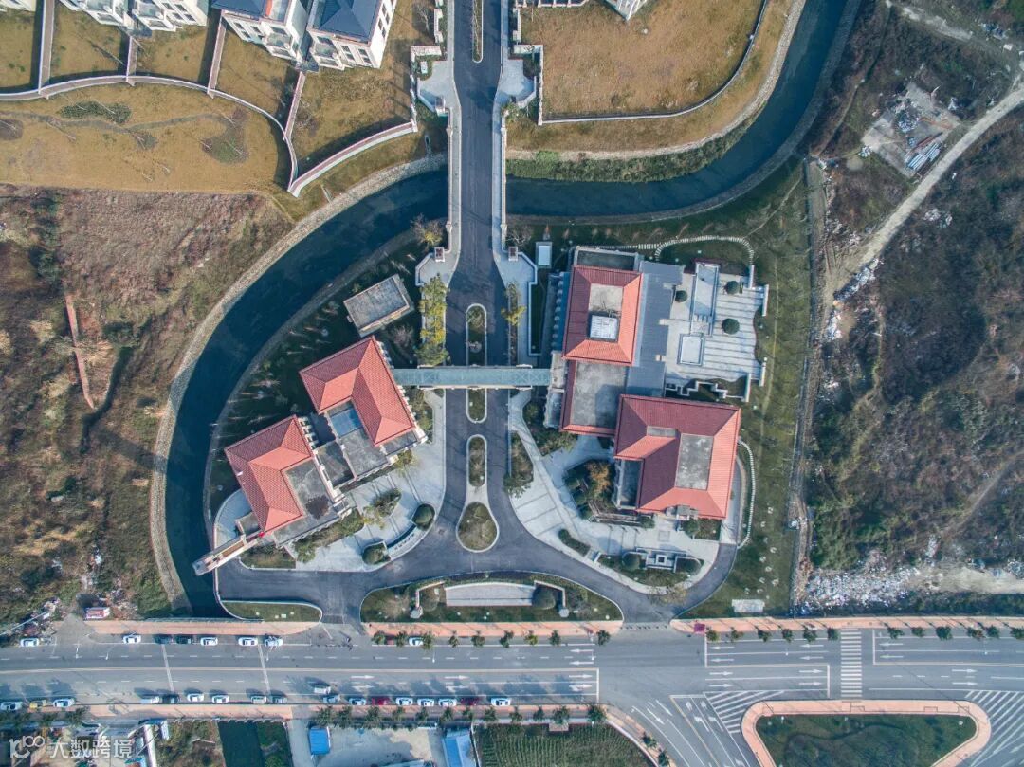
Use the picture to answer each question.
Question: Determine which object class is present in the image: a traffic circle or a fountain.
fountain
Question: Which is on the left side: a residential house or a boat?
residential house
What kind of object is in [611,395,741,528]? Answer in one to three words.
building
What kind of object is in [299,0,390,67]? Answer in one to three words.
house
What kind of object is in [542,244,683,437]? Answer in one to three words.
building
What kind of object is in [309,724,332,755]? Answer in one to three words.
shed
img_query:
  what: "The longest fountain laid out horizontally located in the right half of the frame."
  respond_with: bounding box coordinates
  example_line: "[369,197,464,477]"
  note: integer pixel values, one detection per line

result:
[622,547,702,572]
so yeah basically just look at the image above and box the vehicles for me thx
[462,696,479,705]
[407,637,424,645]
[271,696,289,705]
[439,697,457,706]
[396,697,413,705]
[139,695,160,705]
[155,634,173,643]
[55,697,74,707]
[212,694,230,702]
[162,694,180,703]
[178,634,195,643]
[372,696,389,705]
[28,699,49,709]
[21,638,40,646]
[2,700,21,709]
[417,697,434,706]
[124,634,142,643]
[349,696,367,705]
[382,636,399,644]
[312,685,332,695]
[492,697,509,706]
[201,636,219,645]
[240,636,258,644]
[187,692,205,700]
[323,694,341,703]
